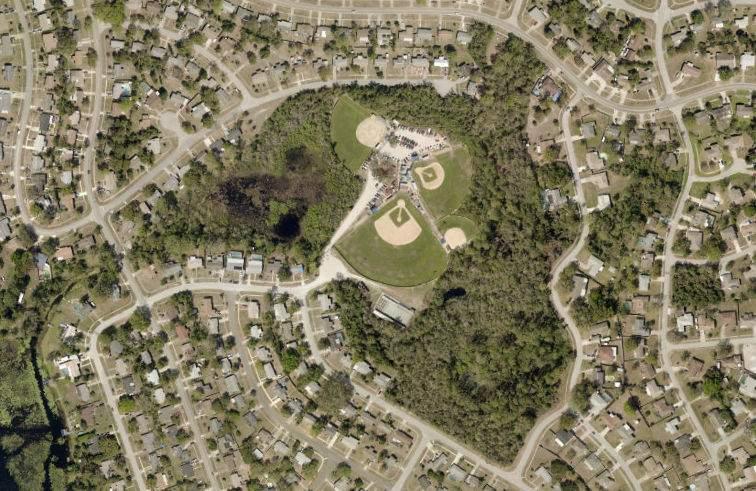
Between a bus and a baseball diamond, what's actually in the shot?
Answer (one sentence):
This aerial view contains a baseball diamond.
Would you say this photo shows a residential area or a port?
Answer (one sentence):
What you see here is a residential area.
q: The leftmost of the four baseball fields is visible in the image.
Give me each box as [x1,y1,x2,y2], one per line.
[331,94,387,171]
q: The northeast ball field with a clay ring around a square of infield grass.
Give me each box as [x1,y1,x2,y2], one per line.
[413,145,473,221]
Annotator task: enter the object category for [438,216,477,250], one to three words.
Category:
baseball field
